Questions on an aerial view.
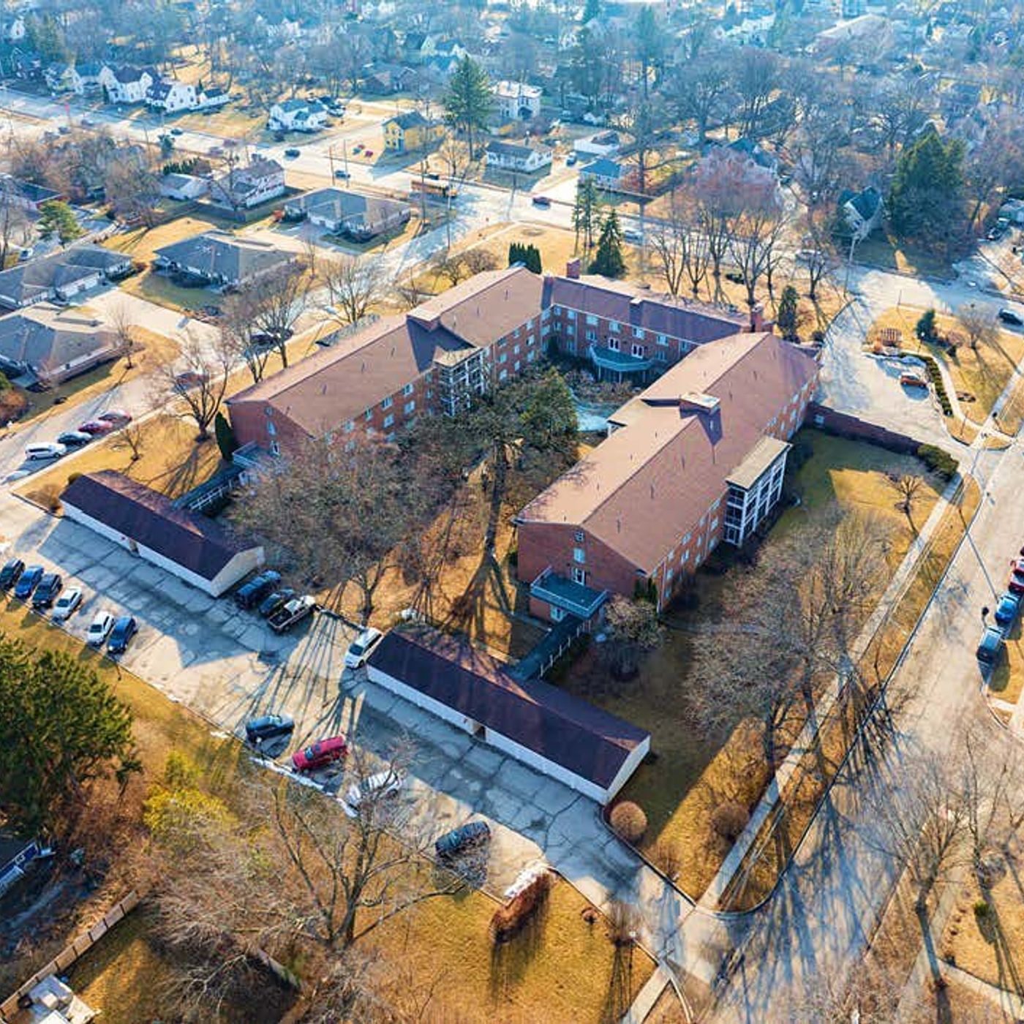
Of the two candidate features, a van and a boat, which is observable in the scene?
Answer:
van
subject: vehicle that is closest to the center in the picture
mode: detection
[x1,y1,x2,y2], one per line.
[342,627,385,668]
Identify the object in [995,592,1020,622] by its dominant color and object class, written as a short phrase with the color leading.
blue car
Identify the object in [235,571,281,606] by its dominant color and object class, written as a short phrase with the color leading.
blue van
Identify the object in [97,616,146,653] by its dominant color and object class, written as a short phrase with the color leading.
blue car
